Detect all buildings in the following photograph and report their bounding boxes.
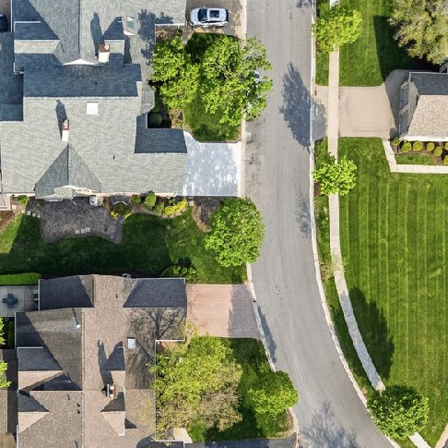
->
[0,0,187,202]
[397,2,448,143]
[0,274,187,448]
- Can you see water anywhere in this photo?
No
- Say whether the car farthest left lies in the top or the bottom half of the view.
top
